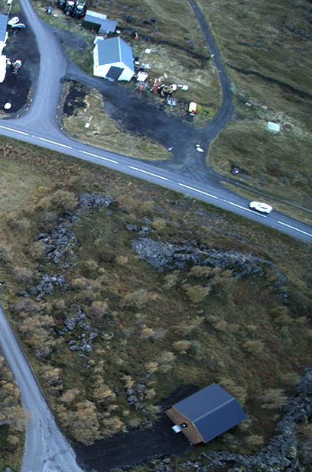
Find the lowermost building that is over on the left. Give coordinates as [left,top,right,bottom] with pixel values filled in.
[94,36,135,84]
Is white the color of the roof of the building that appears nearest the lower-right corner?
No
